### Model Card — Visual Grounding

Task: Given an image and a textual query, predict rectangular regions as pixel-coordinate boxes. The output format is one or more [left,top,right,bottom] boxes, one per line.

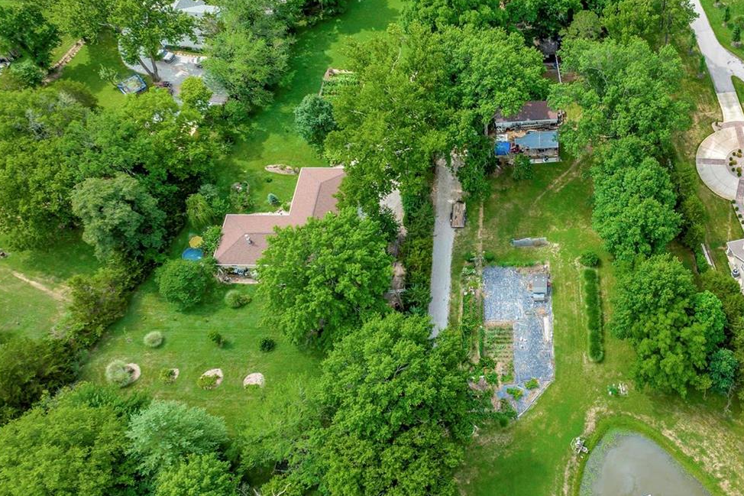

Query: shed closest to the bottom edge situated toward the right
[531,276,548,302]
